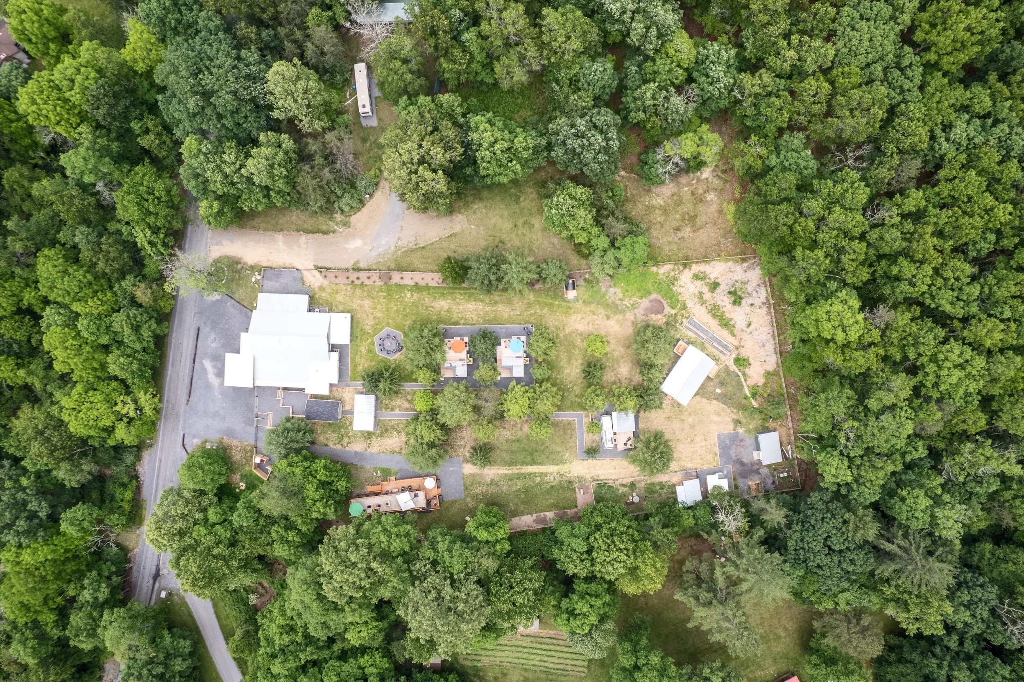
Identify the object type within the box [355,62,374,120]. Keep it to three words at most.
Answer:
camper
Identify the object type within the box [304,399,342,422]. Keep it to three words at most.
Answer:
building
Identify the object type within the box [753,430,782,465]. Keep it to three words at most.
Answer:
shed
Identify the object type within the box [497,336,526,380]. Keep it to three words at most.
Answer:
building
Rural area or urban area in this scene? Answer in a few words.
rural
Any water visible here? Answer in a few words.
No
